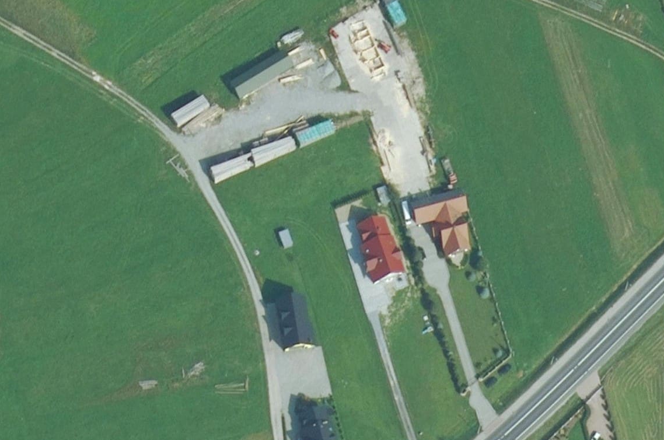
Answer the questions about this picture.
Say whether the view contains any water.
No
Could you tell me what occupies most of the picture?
grass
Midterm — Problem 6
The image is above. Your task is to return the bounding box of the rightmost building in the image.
[411,194,473,266]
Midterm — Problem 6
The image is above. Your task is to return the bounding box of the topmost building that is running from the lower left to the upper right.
[229,49,294,100]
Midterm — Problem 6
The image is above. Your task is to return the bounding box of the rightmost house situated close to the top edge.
[349,20,386,80]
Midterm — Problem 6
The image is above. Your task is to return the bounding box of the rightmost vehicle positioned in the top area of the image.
[442,159,457,184]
